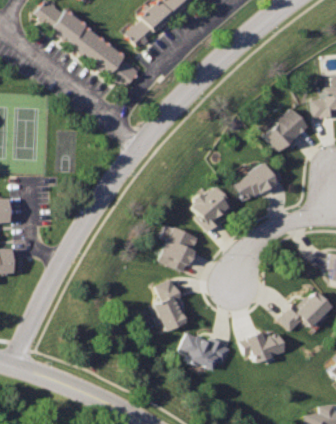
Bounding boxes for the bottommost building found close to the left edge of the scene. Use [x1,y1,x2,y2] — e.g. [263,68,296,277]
[0,248,16,274]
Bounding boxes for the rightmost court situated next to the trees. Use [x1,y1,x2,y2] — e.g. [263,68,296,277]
[54,130,76,174]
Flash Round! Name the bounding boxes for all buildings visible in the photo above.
[157,226,196,274]
[302,406,336,424]
[174,332,230,370]
[150,280,186,332]
[278,288,330,335]
[0,198,12,224]
[239,332,286,364]
[324,255,336,287]
[192,186,231,232]
[0,248,16,274]
[122,0,188,44]
[231,163,276,203]
[31,0,138,84]
[324,350,336,379]
[266,106,306,153]
[308,77,336,118]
